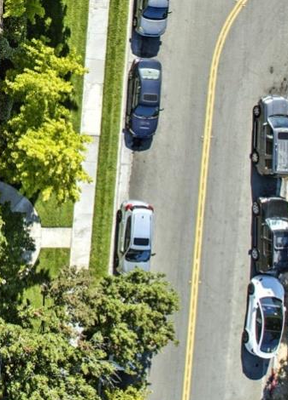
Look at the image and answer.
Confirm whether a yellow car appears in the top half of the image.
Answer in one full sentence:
No, no yellow car is visible in the top half of the image.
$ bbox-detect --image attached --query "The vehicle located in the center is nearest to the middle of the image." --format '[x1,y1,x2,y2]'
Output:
[112,199,152,269]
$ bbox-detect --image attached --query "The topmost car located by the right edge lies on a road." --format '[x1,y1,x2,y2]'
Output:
[246,96,288,175]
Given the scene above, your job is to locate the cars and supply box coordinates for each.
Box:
[236,274,281,356]
[122,57,163,137]
[244,195,288,269]
[130,0,170,38]
[246,96,288,175]
[112,199,152,269]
